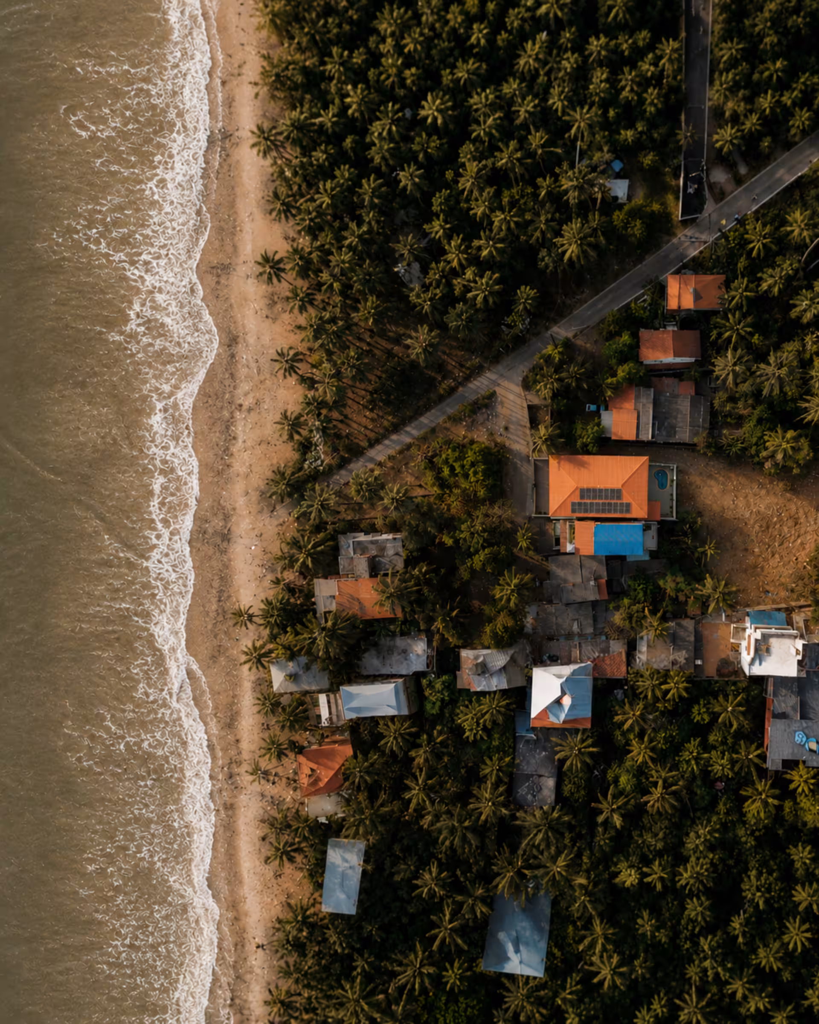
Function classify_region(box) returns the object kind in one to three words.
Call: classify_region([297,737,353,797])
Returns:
house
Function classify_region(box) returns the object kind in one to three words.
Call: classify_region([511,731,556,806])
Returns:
house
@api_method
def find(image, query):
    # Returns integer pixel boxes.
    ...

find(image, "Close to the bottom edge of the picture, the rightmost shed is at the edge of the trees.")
[482,885,552,978]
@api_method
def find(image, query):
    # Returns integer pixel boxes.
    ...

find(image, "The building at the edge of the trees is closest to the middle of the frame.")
[338,531,404,578]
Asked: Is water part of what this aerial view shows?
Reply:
Yes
